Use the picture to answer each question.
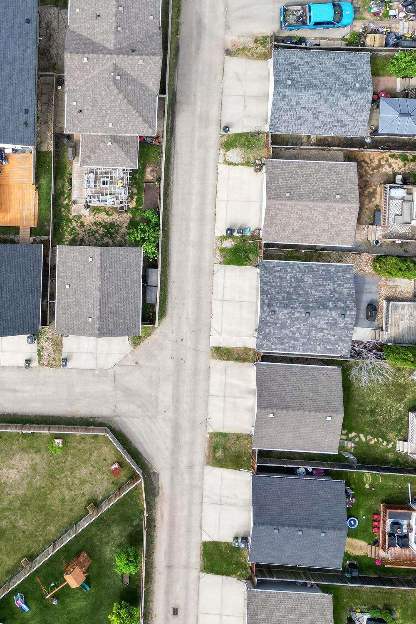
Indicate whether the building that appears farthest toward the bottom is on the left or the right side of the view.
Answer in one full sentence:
It is on the right.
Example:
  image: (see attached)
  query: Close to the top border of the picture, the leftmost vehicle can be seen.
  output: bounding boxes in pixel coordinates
[279,1,353,30]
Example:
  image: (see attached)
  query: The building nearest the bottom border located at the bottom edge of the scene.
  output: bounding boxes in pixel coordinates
[242,579,334,624]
